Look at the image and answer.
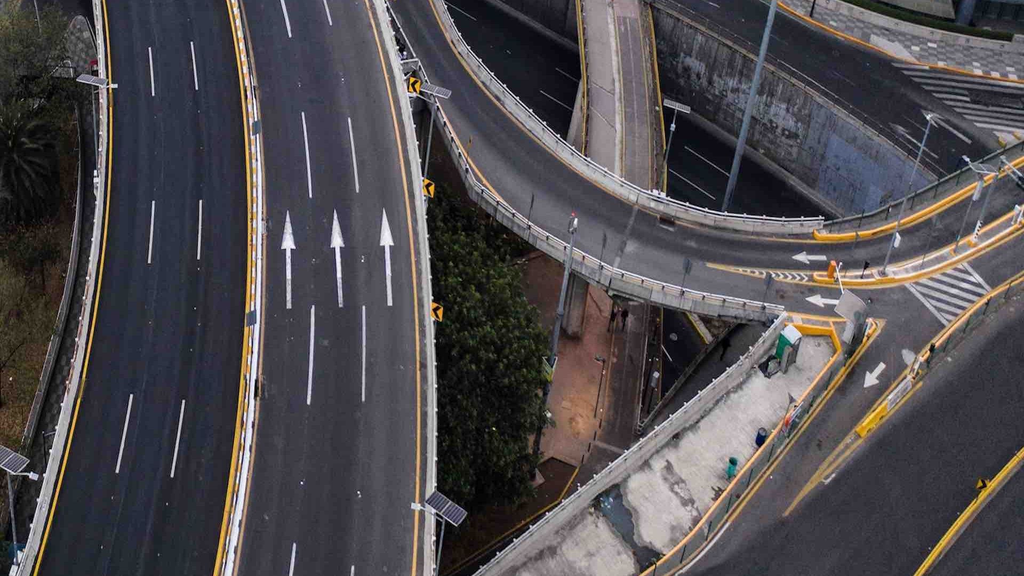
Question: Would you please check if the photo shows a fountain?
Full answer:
No, there's no fountain here.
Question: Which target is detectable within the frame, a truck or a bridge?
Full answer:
Visible in the photo is a bridge.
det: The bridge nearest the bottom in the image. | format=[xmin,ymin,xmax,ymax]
[557,254,631,338]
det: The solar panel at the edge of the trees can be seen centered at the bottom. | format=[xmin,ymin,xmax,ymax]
[424,490,468,526]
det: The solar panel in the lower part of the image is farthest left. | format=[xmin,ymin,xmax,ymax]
[0,445,29,474]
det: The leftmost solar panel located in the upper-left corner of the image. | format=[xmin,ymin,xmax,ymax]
[76,73,109,87]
